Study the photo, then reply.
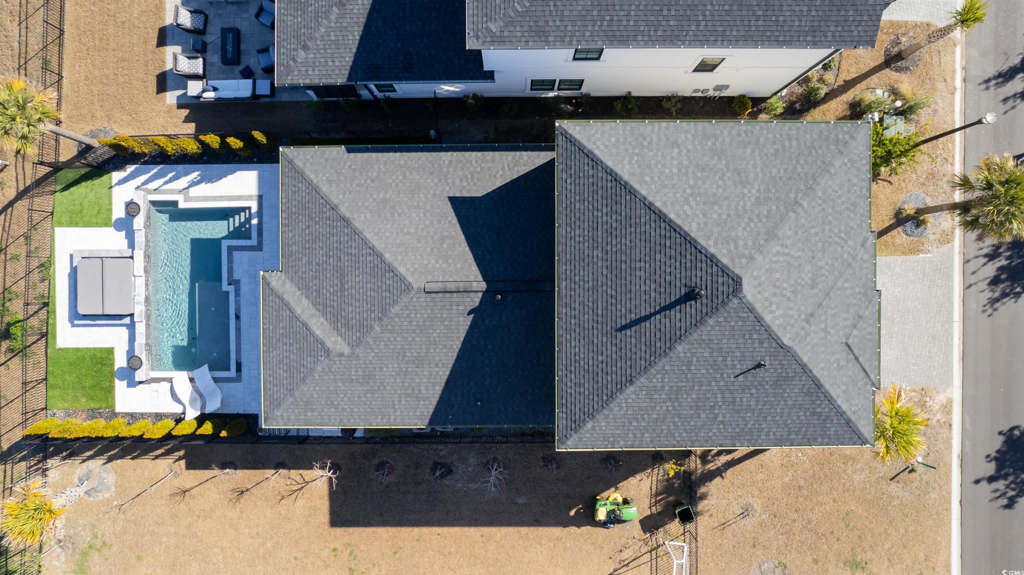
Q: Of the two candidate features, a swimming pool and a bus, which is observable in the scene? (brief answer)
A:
swimming pool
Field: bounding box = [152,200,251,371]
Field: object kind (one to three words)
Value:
swimming pool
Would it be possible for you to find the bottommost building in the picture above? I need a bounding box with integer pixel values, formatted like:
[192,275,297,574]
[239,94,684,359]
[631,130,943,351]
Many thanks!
[260,112,880,451]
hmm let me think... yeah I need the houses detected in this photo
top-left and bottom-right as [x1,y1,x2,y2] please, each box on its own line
[260,112,880,451]
[275,0,886,99]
